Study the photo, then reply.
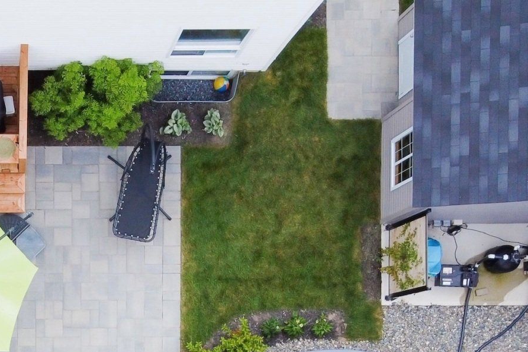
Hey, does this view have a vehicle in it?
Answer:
No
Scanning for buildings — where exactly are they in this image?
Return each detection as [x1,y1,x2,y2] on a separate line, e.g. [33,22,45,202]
[0,0,329,82]
[383,0,528,223]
